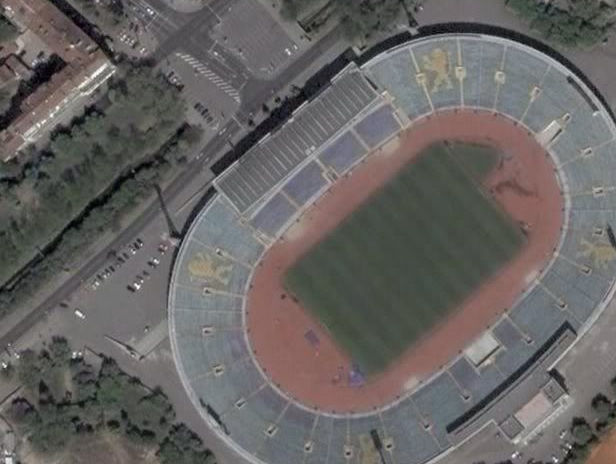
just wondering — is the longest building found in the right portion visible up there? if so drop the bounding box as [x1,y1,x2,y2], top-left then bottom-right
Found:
[498,377,575,446]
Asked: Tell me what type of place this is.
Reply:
sports ground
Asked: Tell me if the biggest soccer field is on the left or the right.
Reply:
right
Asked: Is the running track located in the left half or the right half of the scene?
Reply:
right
